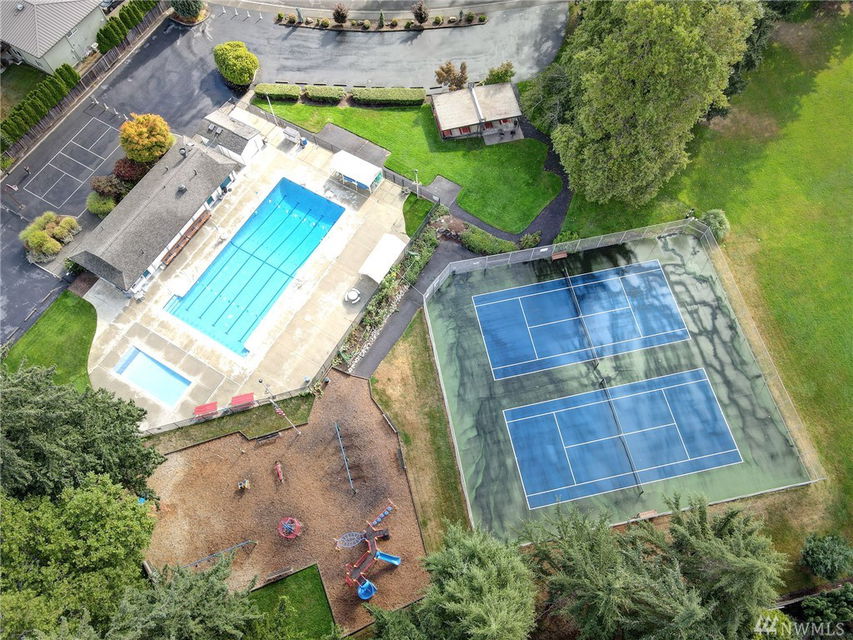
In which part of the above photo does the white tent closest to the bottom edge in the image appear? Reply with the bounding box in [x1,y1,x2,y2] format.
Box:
[358,234,407,289]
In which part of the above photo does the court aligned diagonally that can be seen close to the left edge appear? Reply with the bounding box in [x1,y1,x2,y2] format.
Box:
[17,112,122,212]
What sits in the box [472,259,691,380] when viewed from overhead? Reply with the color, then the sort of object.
blue tennis court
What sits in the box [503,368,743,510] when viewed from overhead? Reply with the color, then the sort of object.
blue tennis court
